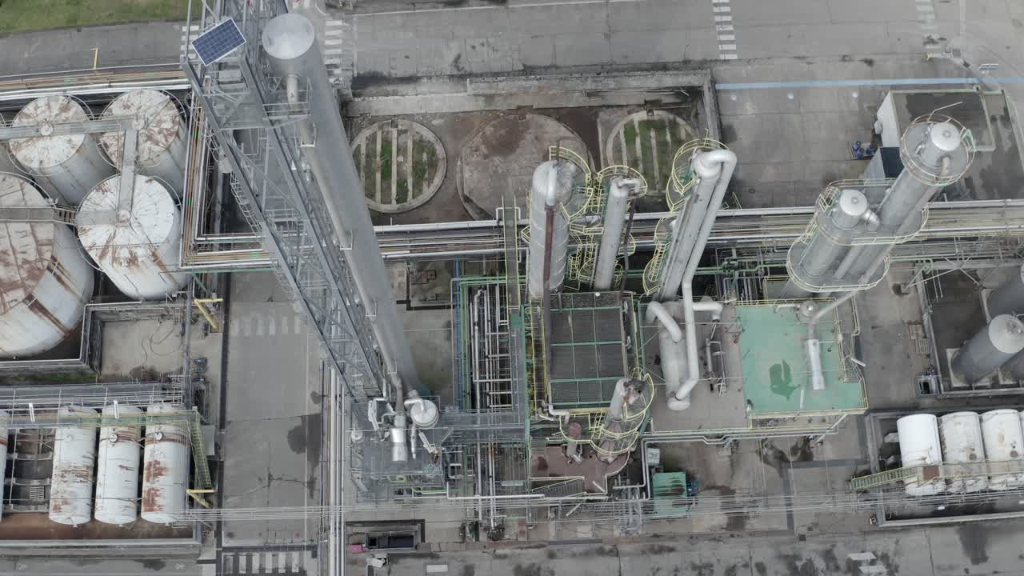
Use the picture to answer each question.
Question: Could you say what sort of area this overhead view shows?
industrial area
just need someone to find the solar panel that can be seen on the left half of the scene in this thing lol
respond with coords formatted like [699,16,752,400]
[189,17,250,67]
